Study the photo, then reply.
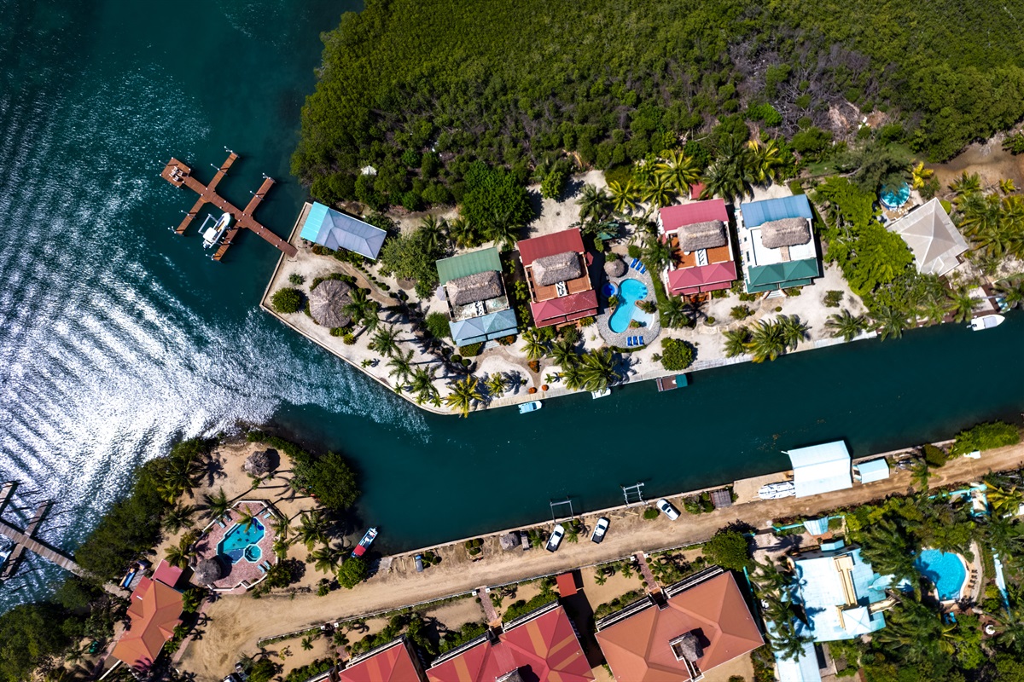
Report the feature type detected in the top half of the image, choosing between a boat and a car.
boat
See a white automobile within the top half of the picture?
No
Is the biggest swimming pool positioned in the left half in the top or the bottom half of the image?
bottom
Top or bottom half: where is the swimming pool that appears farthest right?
bottom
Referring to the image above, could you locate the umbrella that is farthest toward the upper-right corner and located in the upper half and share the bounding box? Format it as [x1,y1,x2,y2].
[604,258,625,279]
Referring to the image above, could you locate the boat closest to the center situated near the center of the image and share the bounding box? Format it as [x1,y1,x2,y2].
[515,402,542,414]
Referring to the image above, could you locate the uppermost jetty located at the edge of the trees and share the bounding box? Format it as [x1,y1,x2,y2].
[159,146,298,262]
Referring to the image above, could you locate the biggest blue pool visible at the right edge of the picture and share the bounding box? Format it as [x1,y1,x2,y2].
[911,543,980,611]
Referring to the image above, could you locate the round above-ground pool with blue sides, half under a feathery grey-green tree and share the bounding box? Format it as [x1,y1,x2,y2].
[878,179,912,210]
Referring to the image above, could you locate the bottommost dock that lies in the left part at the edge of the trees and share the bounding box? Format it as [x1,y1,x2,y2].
[0,475,85,585]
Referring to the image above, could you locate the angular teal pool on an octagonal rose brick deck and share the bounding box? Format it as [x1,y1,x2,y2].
[191,504,279,589]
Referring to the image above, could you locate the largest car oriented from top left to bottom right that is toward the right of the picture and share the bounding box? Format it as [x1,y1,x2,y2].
[656,496,680,522]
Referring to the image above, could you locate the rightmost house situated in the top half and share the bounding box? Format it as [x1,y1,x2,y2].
[885,197,968,277]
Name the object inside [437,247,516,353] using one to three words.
house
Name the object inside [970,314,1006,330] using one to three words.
boat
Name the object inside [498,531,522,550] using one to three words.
shed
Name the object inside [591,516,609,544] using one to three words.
vehicle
